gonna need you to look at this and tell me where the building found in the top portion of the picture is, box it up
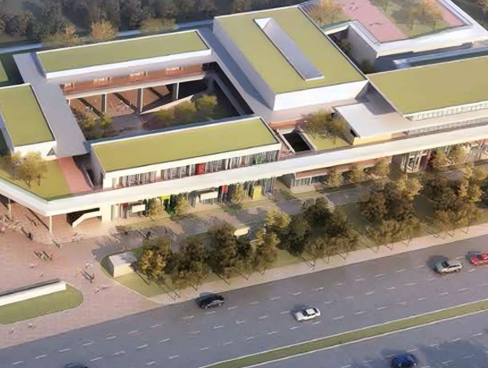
[0,0,488,232]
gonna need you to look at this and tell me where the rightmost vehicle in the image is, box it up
[468,250,488,264]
